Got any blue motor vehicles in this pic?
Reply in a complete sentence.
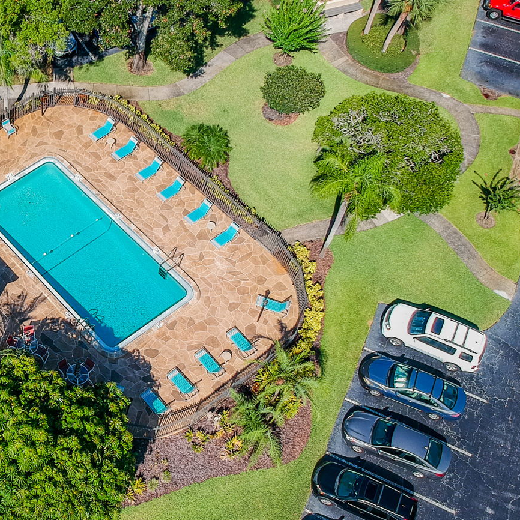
Yes, a blue motor vehicle can be made out from above.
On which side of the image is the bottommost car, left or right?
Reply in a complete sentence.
The bottommost car is on the right side of the image.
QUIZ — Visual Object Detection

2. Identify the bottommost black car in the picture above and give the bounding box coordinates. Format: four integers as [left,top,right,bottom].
[306,461,417,520]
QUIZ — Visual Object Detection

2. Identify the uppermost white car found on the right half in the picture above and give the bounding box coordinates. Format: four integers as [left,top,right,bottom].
[377,306,486,376]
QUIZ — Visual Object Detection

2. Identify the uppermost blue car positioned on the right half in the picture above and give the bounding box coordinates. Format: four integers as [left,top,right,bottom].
[357,358,465,424]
